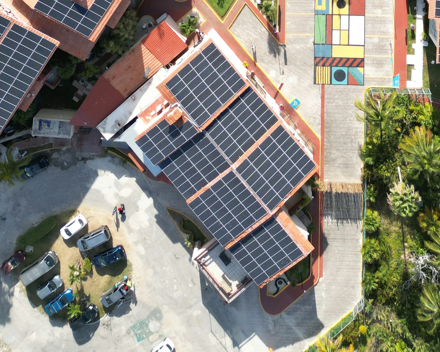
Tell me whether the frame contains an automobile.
Yes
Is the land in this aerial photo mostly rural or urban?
urban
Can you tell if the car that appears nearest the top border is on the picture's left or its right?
left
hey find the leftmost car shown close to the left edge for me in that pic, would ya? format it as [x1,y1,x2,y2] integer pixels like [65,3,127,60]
[0,249,28,277]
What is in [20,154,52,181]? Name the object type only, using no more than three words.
car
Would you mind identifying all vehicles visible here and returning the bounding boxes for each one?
[60,211,88,238]
[20,154,52,181]
[76,223,113,251]
[101,277,136,306]
[18,248,60,290]
[69,300,100,327]
[94,243,127,267]
[37,271,66,299]
[0,249,28,277]
[43,285,76,319]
